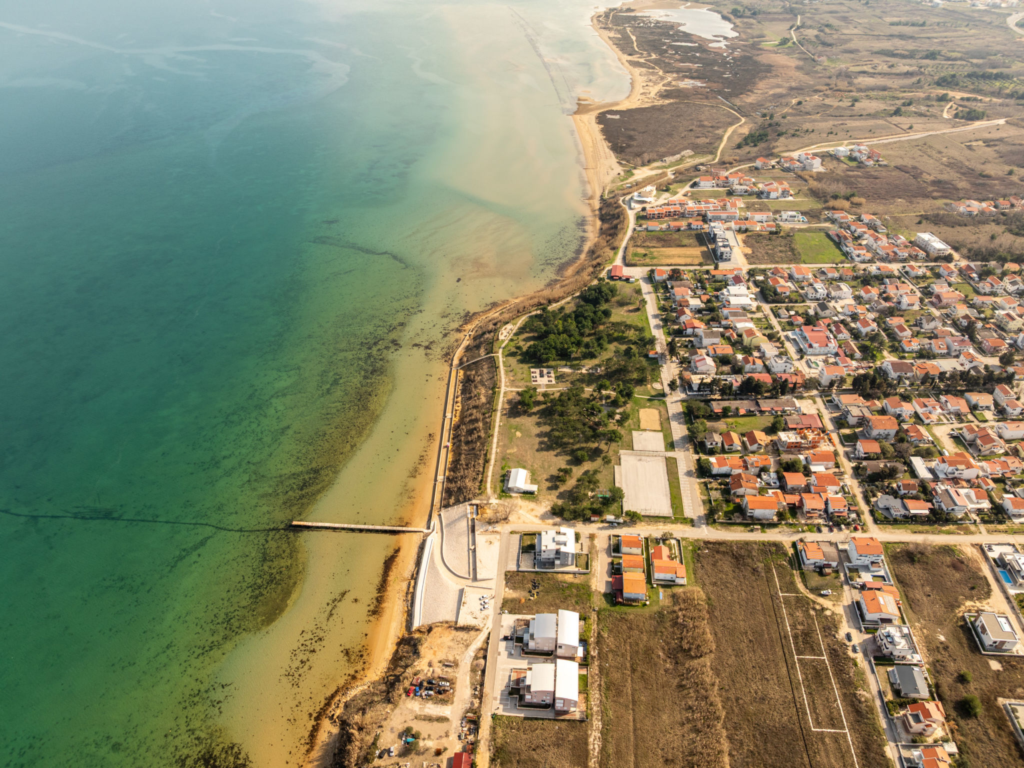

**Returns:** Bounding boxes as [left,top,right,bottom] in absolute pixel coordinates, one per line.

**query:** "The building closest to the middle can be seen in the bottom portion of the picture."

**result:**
[509,467,527,491]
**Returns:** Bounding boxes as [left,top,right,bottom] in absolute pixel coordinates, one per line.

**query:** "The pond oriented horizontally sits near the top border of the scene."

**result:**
[624,8,739,47]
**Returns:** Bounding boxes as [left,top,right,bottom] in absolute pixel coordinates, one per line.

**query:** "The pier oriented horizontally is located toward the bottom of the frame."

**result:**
[291,520,428,533]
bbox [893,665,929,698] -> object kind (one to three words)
house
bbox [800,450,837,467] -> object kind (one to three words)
house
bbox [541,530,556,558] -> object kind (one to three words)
building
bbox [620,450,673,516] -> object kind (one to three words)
sports court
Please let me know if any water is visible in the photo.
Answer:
Yes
